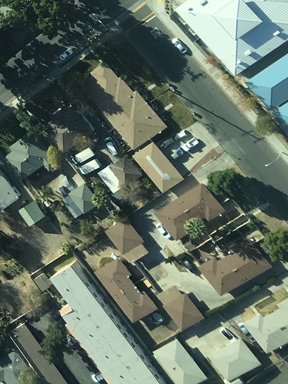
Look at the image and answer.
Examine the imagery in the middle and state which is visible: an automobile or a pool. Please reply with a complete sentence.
What appears in the middle is an automobile.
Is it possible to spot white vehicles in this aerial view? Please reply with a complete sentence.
Yes, a white vehicle appears in the view.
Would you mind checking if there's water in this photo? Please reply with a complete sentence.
No, there is no water in the image.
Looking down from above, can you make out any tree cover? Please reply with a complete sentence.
Yes, there's tree cover in this view.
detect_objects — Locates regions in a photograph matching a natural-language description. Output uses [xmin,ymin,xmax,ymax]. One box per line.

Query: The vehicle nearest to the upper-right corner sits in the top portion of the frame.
[172,37,188,53]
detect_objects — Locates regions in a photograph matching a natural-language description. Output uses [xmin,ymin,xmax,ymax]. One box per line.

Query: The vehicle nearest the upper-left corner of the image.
[59,48,74,61]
